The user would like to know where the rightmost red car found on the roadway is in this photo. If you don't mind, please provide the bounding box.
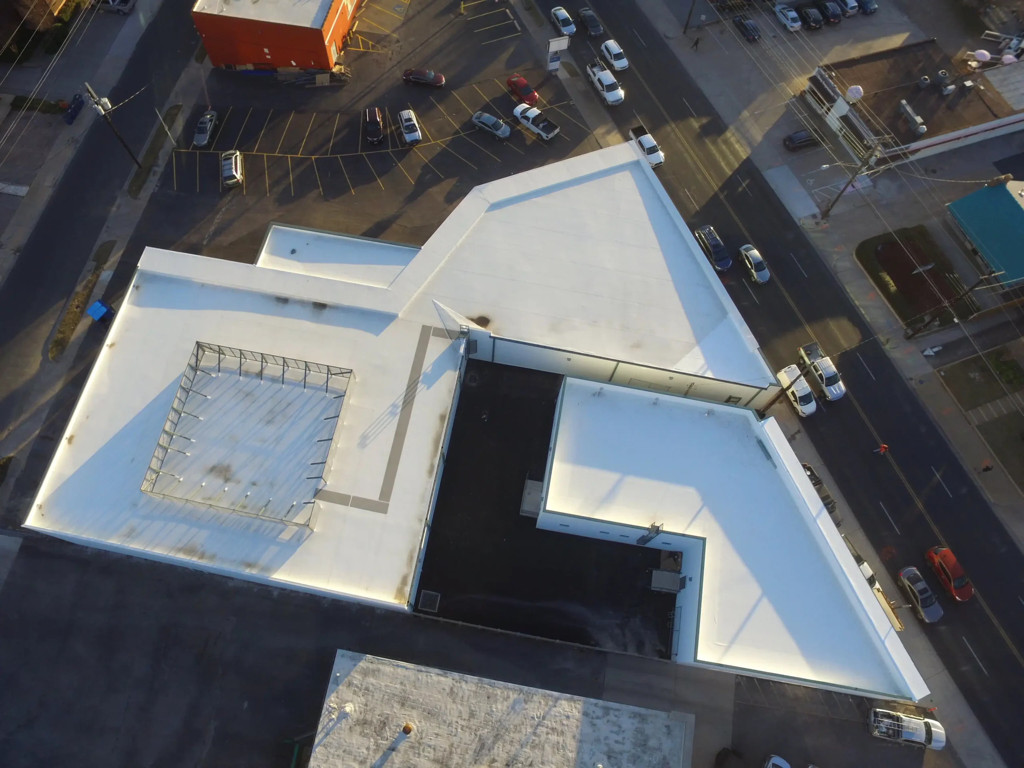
[929,545,972,602]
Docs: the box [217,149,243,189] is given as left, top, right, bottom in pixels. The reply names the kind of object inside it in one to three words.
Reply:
car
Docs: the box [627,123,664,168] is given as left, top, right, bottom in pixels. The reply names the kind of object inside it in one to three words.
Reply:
truck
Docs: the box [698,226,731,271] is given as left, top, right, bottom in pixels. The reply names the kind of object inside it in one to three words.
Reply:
car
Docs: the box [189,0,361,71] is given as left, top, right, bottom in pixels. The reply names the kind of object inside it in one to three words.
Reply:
building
